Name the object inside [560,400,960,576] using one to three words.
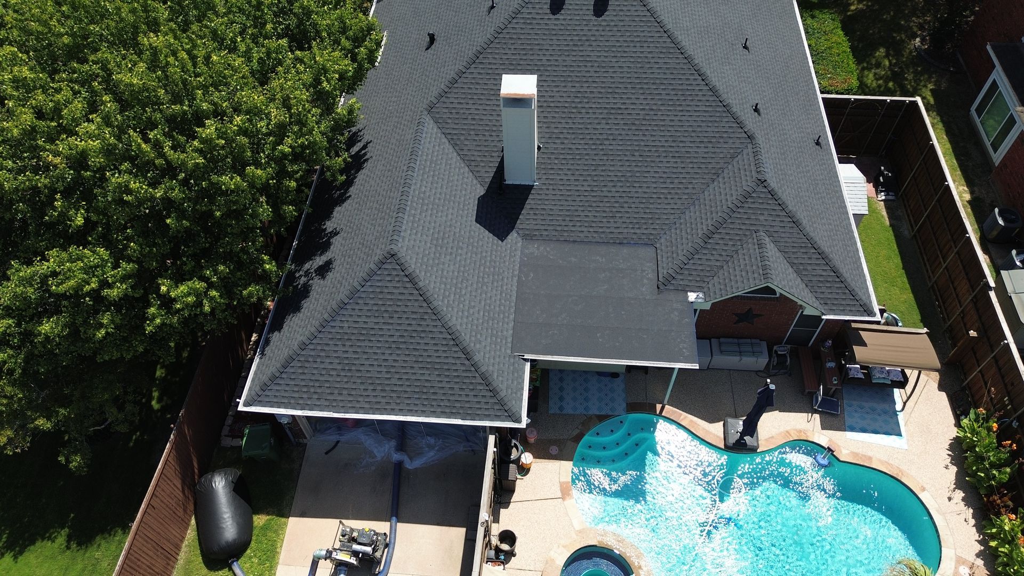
swimming pool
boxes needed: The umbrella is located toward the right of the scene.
[724,379,783,449]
